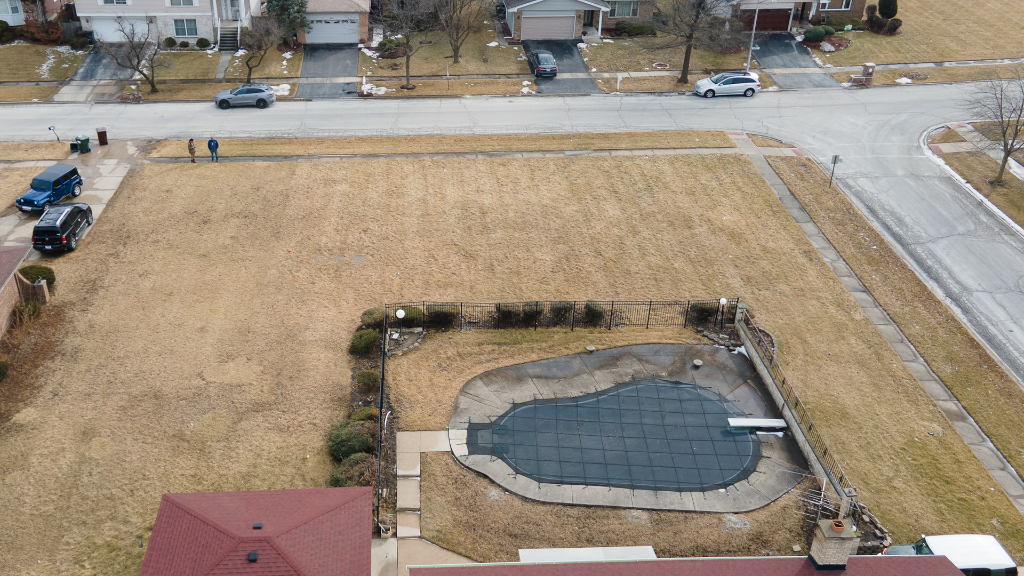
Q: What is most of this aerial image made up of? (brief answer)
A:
grass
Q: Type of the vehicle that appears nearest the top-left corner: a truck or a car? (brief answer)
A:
car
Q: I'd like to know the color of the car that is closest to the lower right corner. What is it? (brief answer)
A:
white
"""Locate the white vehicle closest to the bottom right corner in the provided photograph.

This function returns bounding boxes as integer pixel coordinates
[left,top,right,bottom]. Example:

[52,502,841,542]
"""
[877,537,1020,576]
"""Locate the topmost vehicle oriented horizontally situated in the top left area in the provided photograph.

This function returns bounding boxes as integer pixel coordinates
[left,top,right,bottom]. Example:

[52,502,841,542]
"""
[214,82,276,109]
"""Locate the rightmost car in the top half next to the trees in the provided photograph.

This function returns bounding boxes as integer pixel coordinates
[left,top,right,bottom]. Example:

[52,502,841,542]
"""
[693,71,764,98]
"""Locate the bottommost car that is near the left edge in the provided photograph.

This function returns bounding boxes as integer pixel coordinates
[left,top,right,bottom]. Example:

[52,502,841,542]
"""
[30,204,92,255]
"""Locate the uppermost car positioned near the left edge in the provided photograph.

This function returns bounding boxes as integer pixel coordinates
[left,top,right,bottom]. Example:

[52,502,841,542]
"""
[14,163,86,213]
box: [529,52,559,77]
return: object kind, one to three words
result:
car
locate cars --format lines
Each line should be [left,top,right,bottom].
[14,163,86,213]
[214,82,276,109]
[693,71,764,98]
[529,52,559,77]
[30,204,92,255]
[877,537,1020,576]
